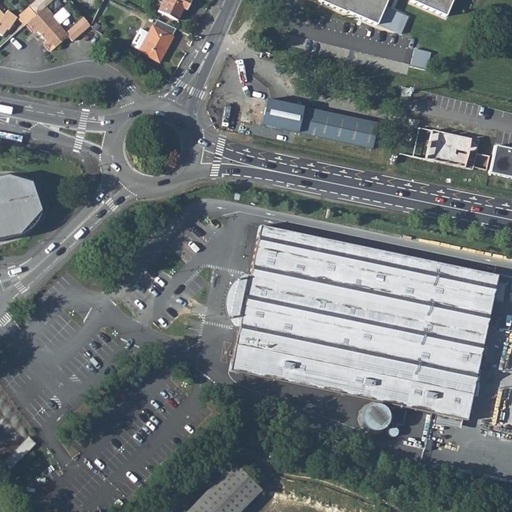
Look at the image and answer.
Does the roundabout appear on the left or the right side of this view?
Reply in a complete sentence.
It is on the left.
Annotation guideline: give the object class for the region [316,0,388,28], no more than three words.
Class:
building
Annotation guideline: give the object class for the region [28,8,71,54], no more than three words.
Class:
house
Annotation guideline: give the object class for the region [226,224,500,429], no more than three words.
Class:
building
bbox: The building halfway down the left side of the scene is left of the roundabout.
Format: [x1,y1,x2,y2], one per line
[0,174,43,238]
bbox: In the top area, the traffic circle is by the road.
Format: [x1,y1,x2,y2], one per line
[102,96,202,196]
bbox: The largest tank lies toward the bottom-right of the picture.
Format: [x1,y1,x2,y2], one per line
[358,400,392,430]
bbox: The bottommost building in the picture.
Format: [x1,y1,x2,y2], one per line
[193,467,262,512]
